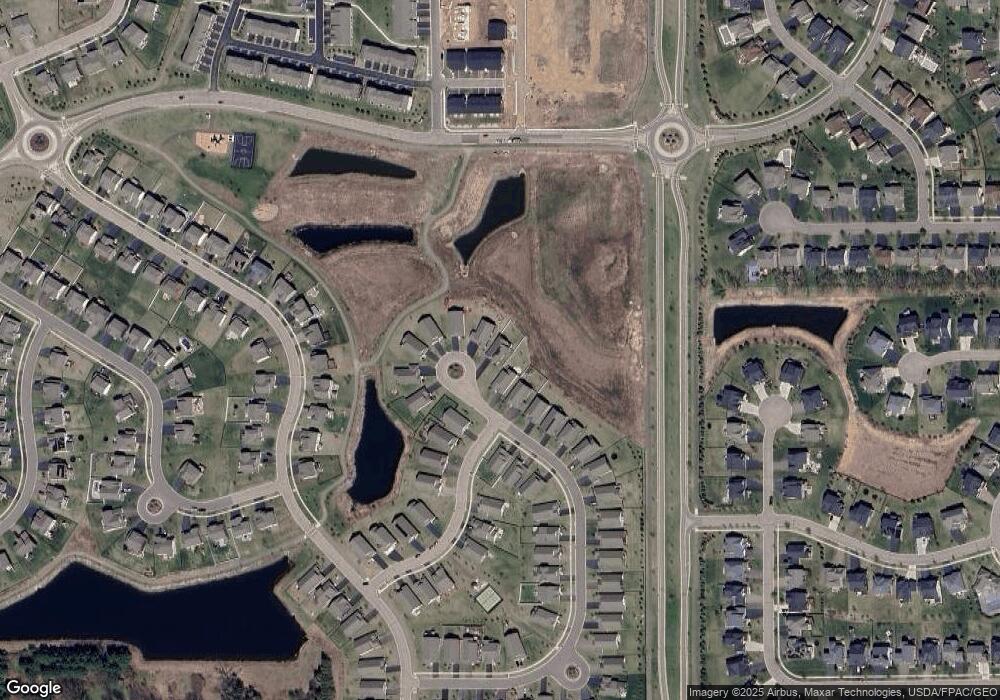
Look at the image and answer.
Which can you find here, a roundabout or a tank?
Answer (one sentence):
The image shows a roundabout.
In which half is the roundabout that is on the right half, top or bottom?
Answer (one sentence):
The roundabout that is on the right half sits in the top half of the picture.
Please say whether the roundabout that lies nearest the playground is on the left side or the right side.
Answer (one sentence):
The roundabout that lies nearest the playground sits on the left side.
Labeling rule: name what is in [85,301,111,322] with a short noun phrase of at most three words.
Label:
house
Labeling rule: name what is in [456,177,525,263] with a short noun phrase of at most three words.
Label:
pond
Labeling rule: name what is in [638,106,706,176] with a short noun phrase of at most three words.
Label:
roundabout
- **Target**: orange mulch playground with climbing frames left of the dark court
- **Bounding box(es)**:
[194,131,233,153]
